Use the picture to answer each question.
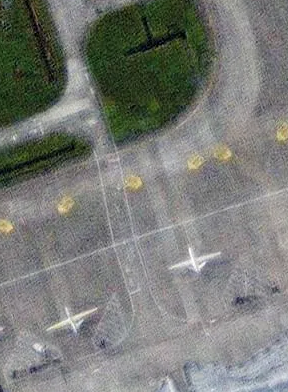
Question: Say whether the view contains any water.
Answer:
No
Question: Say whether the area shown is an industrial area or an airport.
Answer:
airport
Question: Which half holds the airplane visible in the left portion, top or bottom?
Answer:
bottom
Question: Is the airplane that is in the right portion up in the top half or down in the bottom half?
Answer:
bottom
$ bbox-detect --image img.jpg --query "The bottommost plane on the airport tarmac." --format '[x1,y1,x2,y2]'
[47,308,96,335]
